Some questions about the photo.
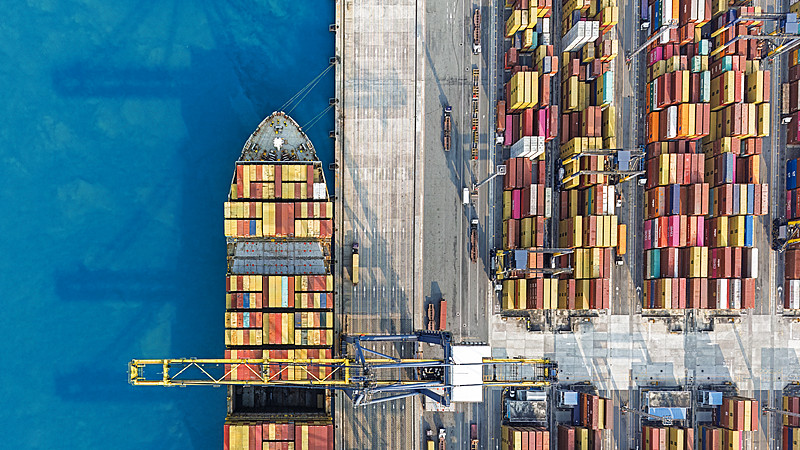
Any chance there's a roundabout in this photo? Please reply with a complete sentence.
No, no roundabout is visible in the scene.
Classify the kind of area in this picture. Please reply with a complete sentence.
The picture captures a port.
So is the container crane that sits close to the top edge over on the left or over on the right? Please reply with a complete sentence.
The container crane that sits close to the top edge is on the right side of the image.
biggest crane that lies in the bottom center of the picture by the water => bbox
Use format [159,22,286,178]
[130,327,557,406]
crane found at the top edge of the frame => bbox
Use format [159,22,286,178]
[696,9,800,62]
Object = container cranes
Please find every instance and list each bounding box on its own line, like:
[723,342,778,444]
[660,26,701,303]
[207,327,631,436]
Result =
[555,141,648,183]
[696,9,800,62]
[130,327,557,406]
[489,246,577,281]
[775,219,800,254]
